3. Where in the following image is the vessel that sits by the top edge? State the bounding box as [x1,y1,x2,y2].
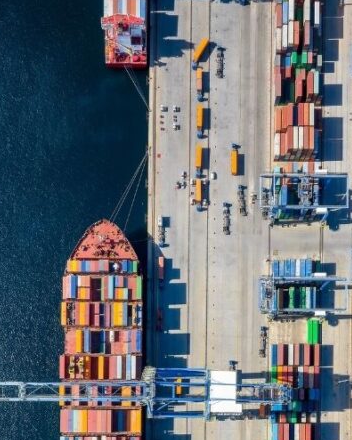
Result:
[102,0,148,67]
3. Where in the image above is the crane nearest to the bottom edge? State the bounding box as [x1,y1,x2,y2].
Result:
[0,361,290,423]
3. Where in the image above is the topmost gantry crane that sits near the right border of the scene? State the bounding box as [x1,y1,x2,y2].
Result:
[261,169,352,216]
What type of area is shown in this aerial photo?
port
